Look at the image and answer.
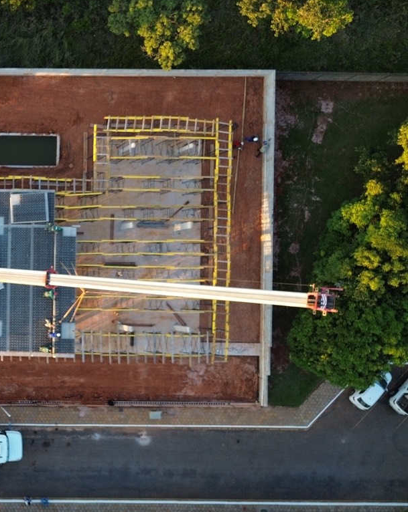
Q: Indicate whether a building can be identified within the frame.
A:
No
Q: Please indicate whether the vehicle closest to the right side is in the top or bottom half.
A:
bottom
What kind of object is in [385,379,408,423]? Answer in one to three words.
vehicle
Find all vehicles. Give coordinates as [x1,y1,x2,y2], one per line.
[385,379,408,423]
[0,427,26,468]
[344,363,393,412]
